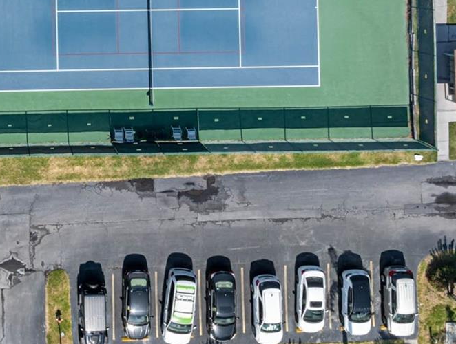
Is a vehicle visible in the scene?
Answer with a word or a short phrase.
Yes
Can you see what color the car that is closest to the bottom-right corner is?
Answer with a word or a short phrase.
white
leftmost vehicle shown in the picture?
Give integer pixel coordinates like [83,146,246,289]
[77,280,111,344]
